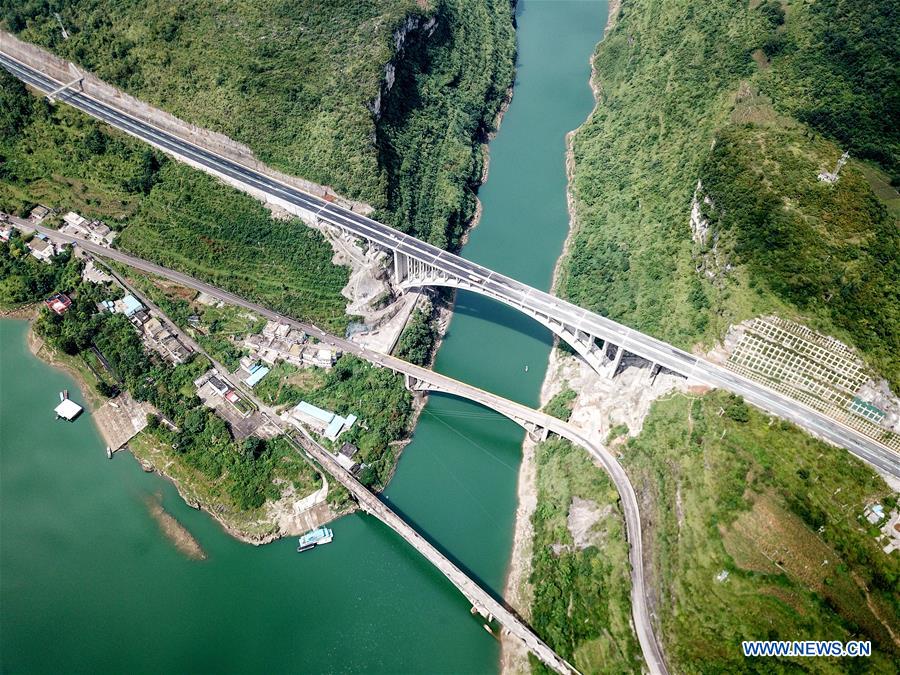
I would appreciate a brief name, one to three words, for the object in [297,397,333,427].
house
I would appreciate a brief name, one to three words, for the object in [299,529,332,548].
ship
